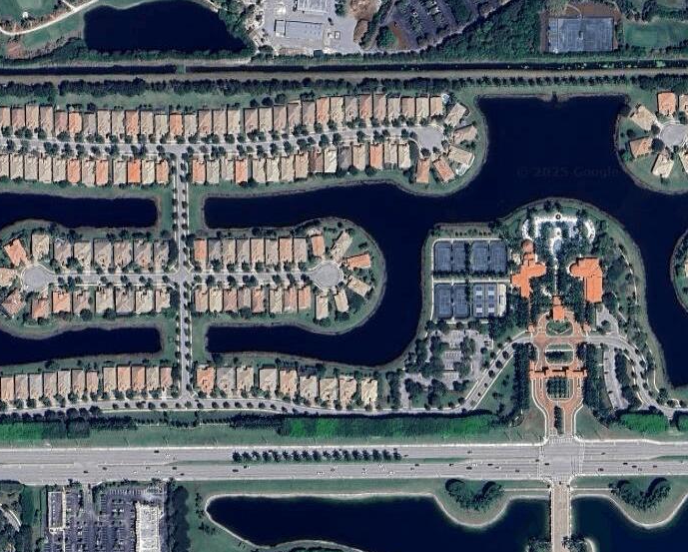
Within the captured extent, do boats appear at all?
No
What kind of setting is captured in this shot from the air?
residential area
